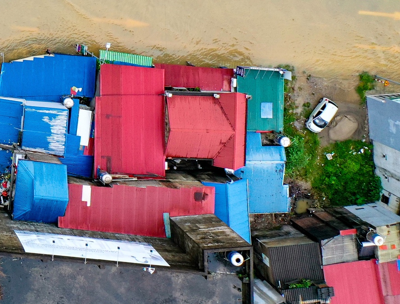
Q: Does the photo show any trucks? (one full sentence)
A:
No, no truck is visible in the scene.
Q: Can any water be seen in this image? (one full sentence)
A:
Yes, the picture does contain water.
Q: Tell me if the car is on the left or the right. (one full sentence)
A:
The car appears in the right half of the scene.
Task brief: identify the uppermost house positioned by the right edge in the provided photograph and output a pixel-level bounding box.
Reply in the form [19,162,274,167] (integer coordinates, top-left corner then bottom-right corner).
[345,87,400,151]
